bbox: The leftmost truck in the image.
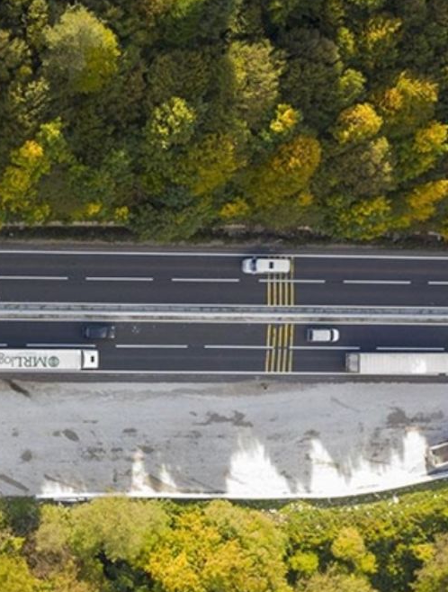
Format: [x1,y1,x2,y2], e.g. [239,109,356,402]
[0,349,97,371]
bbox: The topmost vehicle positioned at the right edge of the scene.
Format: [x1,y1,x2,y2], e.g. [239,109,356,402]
[343,353,448,376]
